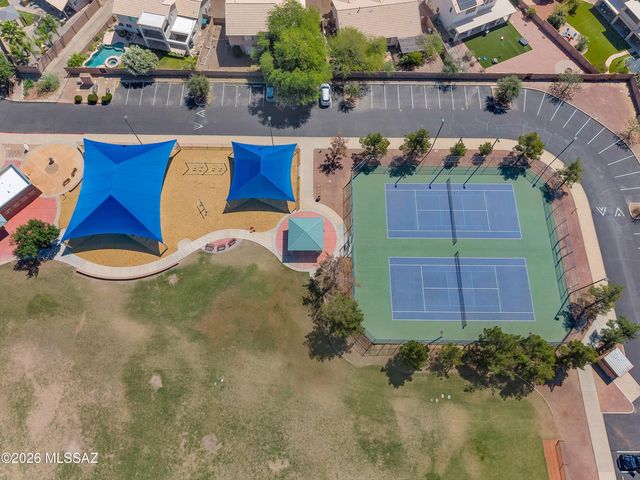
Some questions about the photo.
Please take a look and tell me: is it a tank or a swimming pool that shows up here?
swimming pool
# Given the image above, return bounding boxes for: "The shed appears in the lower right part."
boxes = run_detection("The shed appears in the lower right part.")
[595,348,633,378]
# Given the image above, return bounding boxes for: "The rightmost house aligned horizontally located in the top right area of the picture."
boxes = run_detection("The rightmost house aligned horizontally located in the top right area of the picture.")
[417,0,518,43]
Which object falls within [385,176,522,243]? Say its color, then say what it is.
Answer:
blue tennis court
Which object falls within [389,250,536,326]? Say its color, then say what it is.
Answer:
blue tennis court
